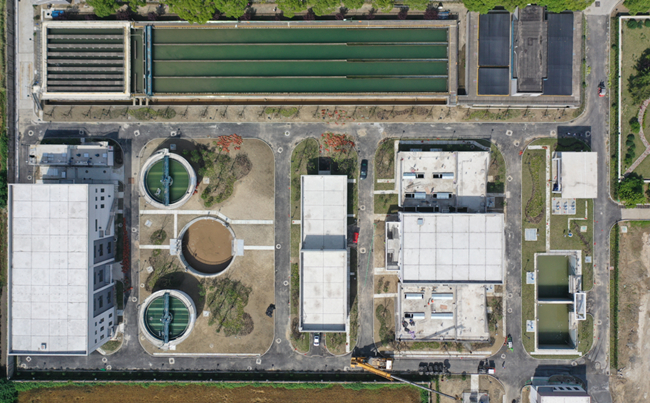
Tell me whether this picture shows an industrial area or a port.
industrial area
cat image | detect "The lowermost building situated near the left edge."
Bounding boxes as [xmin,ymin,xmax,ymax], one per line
[9,183,117,355]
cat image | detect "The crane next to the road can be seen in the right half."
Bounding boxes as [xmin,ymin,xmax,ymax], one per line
[351,356,460,400]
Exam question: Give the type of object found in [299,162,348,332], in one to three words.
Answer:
building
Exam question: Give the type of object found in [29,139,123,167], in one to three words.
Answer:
building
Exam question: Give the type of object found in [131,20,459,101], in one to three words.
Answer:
storage tank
